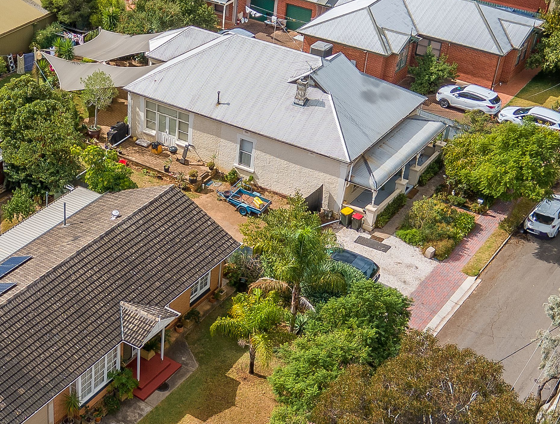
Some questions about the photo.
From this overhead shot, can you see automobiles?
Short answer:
Yes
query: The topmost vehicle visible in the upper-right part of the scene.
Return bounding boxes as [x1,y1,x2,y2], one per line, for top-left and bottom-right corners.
[436,86,504,119]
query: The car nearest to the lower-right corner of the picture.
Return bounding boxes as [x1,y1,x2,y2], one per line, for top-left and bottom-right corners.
[522,201,560,243]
